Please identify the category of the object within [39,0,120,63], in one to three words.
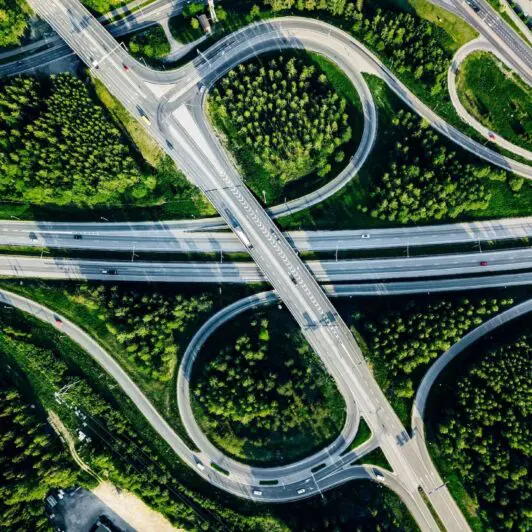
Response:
overpass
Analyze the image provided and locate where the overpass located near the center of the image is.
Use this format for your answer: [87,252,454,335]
[205,176,338,328]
